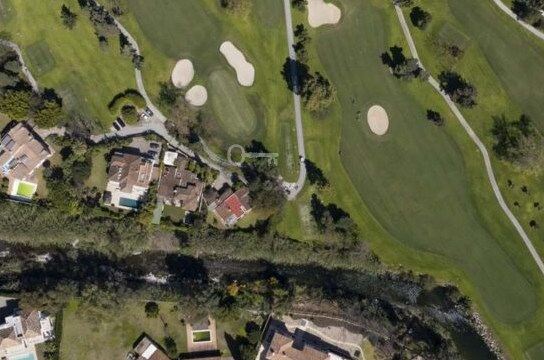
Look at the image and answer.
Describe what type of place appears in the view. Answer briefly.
golf course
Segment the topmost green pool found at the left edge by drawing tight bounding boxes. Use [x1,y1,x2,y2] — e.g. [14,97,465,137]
[15,181,36,198]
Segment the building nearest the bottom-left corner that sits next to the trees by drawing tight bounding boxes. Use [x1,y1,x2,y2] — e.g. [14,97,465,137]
[0,308,57,360]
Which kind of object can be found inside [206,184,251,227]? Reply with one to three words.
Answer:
house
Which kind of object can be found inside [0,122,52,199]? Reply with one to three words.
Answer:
house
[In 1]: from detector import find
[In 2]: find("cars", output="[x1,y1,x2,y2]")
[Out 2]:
[147,150,157,155]
[144,107,153,116]
[139,111,148,120]
[116,117,124,127]
[112,121,120,131]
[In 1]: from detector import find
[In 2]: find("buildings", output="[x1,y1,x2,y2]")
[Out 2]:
[206,184,251,227]
[152,151,202,213]
[0,308,57,360]
[0,122,52,199]
[126,334,236,360]
[103,152,156,210]
[263,316,346,360]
